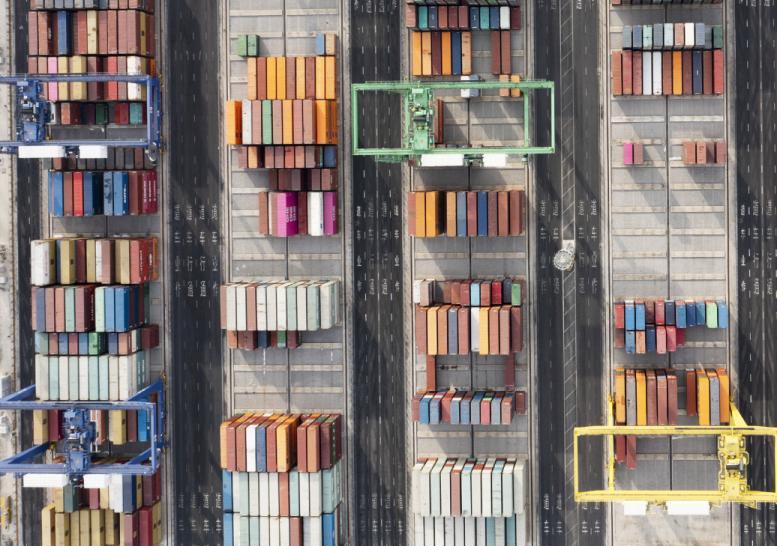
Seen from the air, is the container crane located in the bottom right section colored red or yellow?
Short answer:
yellow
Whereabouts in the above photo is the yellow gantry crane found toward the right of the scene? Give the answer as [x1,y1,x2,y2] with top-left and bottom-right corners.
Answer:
[574,384,777,516]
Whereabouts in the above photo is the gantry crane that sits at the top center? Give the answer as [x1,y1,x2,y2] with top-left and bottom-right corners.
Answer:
[351,74,555,177]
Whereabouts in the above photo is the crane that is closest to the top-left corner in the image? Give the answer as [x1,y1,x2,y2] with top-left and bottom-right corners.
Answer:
[0,68,166,170]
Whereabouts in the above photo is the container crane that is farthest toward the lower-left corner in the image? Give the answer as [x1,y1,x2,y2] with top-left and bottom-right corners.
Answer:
[0,360,166,486]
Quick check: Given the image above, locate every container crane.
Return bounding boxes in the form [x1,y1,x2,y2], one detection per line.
[574,384,777,516]
[0,360,166,486]
[351,74,555,177]
[0,68,166,170]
